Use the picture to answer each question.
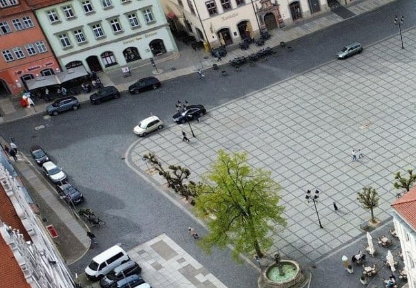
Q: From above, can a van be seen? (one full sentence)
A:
Yes, the photo shows a van.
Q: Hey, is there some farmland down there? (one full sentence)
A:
No, the scene doesn't show any farmland.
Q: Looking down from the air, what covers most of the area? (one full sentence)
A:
What you mostly see from above here is paved ground.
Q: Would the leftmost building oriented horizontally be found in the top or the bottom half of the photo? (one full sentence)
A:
The top half of the photo is where the leftmost building oriented horizontally is.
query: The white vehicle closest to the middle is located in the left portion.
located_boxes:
[132,115,164,134]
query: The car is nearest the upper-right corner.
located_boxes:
[335,39,364,57]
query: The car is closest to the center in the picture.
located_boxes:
[172,104,206,122]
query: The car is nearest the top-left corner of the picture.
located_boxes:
[44,91,80,113]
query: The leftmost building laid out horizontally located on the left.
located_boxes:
[31,0,175,69]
